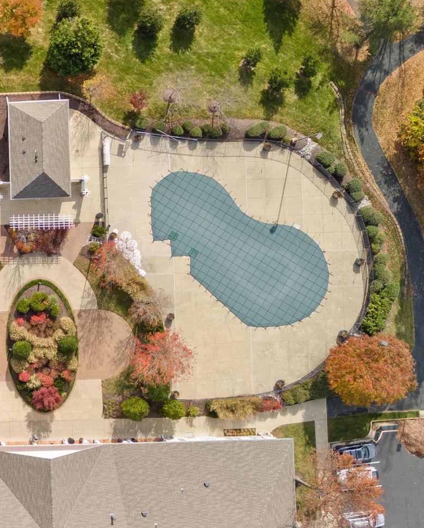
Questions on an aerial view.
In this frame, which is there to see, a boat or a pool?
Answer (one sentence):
Looking from above, you can make out a pool.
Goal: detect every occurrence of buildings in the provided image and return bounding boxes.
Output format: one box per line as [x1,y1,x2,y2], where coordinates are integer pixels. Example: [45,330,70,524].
[0,436,295,528]
[8,100,71,200]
